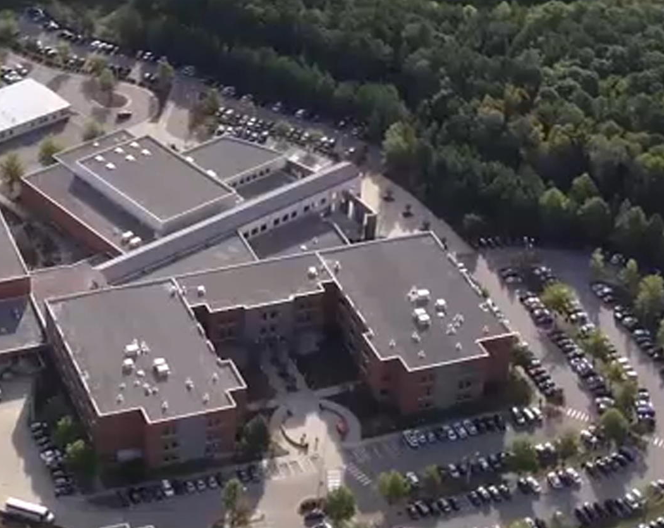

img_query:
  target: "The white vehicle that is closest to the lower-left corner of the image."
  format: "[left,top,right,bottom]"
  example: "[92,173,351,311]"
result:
[5,496,53,524]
